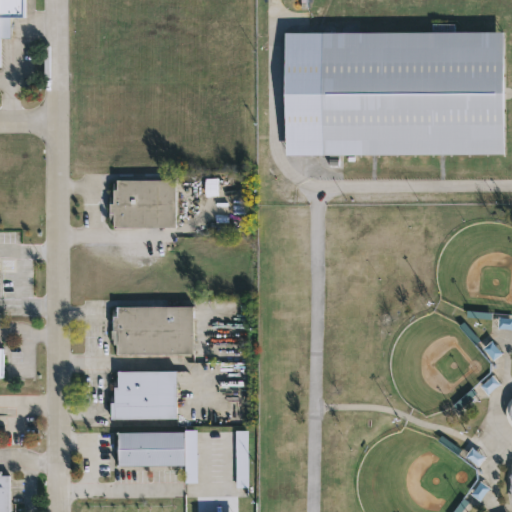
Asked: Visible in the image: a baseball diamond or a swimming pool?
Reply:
baseball diamond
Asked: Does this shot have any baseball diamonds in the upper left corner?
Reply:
No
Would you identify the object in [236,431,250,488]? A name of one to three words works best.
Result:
shed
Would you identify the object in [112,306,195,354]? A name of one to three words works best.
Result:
building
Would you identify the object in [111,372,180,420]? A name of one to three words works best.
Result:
building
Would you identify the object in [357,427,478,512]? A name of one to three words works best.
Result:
baseball field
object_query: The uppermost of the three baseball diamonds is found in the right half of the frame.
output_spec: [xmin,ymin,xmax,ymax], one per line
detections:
[436,222,512,312]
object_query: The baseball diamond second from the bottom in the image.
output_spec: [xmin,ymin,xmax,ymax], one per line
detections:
[390,310,491,417]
